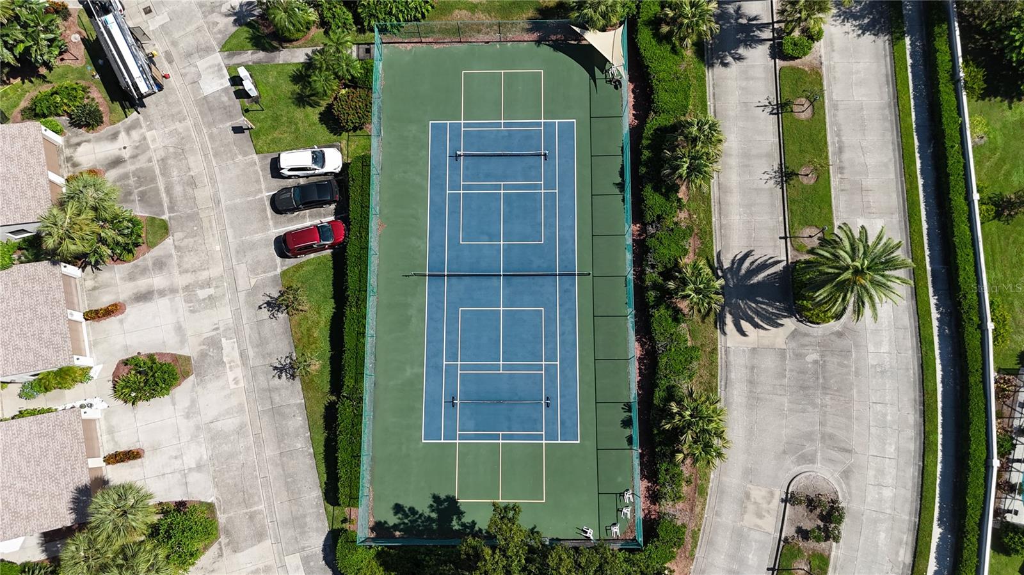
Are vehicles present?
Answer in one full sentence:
Yes, there's a vehicle here.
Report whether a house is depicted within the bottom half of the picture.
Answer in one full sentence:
Yes, the scene does show a house within the bottom half of the picture.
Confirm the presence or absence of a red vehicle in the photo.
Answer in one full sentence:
Yes, a red vehicle can be made out from above.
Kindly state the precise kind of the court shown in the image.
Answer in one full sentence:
The court appears to be a tennis court.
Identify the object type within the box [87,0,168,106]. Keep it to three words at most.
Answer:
trailer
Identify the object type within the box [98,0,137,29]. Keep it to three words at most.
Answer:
truck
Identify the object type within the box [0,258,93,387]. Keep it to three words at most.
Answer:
house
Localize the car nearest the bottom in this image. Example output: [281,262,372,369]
[282,219,347,256]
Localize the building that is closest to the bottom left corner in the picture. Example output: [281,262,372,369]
[0,407,106,541]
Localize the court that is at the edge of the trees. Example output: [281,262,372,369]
[373,44,632,539]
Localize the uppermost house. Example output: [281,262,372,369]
[0,113,67,239]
